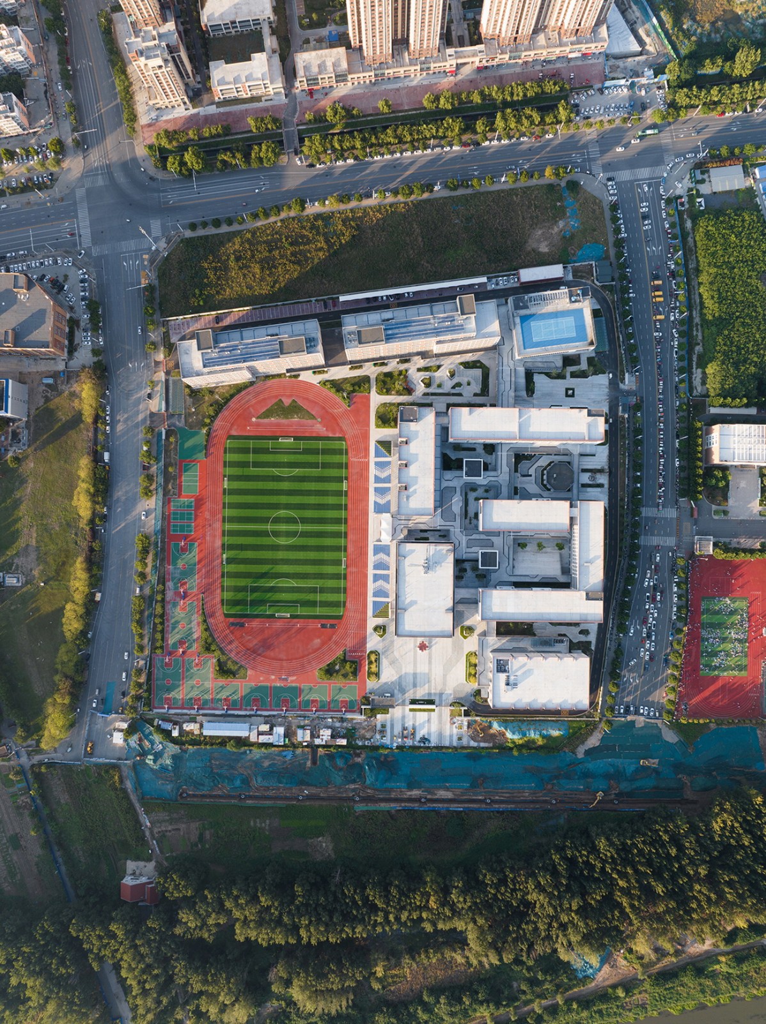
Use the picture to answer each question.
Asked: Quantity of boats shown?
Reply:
0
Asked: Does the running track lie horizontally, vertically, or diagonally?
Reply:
vertically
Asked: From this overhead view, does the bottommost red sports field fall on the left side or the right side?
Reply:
right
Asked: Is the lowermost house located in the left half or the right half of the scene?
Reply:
left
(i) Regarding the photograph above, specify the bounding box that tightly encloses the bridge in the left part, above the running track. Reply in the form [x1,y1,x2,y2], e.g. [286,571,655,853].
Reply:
[283,121,298,165]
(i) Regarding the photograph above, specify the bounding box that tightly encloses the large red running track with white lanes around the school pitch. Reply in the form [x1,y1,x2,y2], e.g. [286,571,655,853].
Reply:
[204,379,369,710]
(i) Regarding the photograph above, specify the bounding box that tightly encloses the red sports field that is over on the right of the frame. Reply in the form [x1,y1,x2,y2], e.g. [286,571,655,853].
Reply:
[676,557,766,720]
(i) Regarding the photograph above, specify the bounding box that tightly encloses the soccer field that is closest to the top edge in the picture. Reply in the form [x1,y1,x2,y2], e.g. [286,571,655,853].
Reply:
[222,436,348,620]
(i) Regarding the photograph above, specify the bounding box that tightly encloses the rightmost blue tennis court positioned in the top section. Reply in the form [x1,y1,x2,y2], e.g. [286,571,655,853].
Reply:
[519,309,588,350]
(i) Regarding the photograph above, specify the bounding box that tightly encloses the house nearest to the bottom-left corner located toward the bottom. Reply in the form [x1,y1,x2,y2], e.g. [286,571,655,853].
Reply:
[121,874,161,901]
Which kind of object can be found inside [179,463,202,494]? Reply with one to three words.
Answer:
sports court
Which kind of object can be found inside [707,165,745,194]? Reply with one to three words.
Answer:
building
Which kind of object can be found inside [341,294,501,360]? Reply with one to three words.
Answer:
building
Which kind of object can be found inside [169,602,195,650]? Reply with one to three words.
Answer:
basketball court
